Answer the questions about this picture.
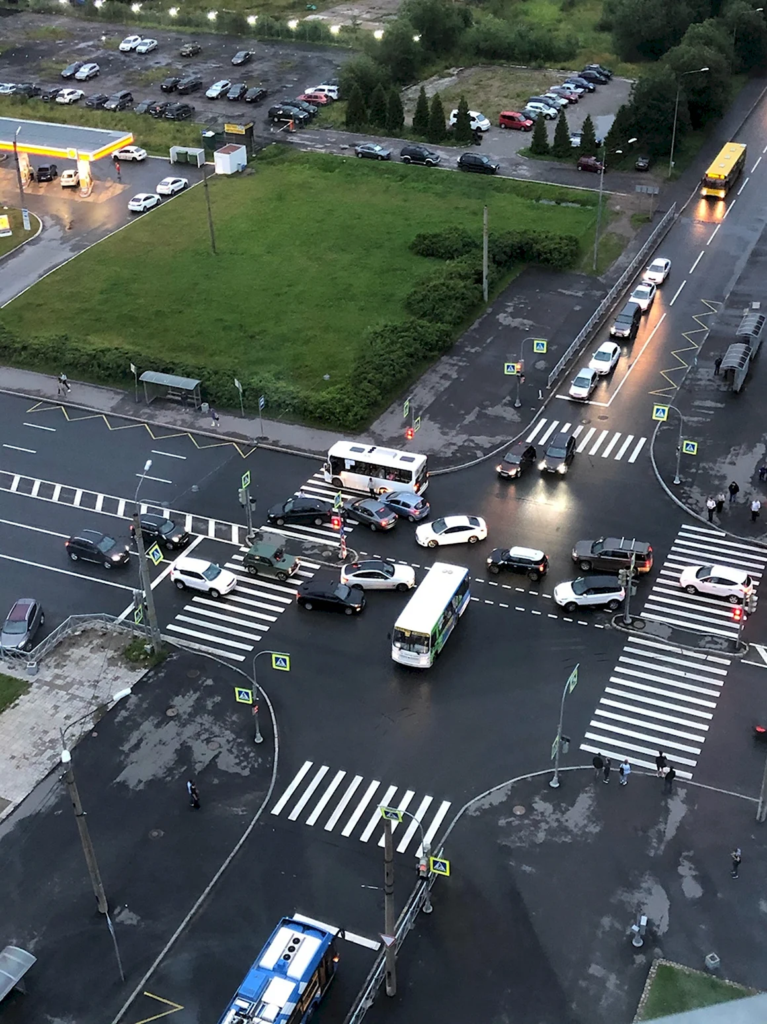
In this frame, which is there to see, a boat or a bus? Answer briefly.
bus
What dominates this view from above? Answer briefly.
paved ground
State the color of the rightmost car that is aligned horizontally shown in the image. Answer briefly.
white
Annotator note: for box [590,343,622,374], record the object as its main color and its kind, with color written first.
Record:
white car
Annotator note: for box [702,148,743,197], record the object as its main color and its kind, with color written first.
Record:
yellow bus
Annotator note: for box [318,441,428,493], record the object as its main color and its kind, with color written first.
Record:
white bus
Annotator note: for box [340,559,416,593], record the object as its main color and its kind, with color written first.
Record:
white car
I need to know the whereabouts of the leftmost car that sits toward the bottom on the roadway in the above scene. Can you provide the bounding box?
[0,592,45,650]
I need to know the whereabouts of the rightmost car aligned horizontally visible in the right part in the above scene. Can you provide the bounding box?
[680,564,755,602]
